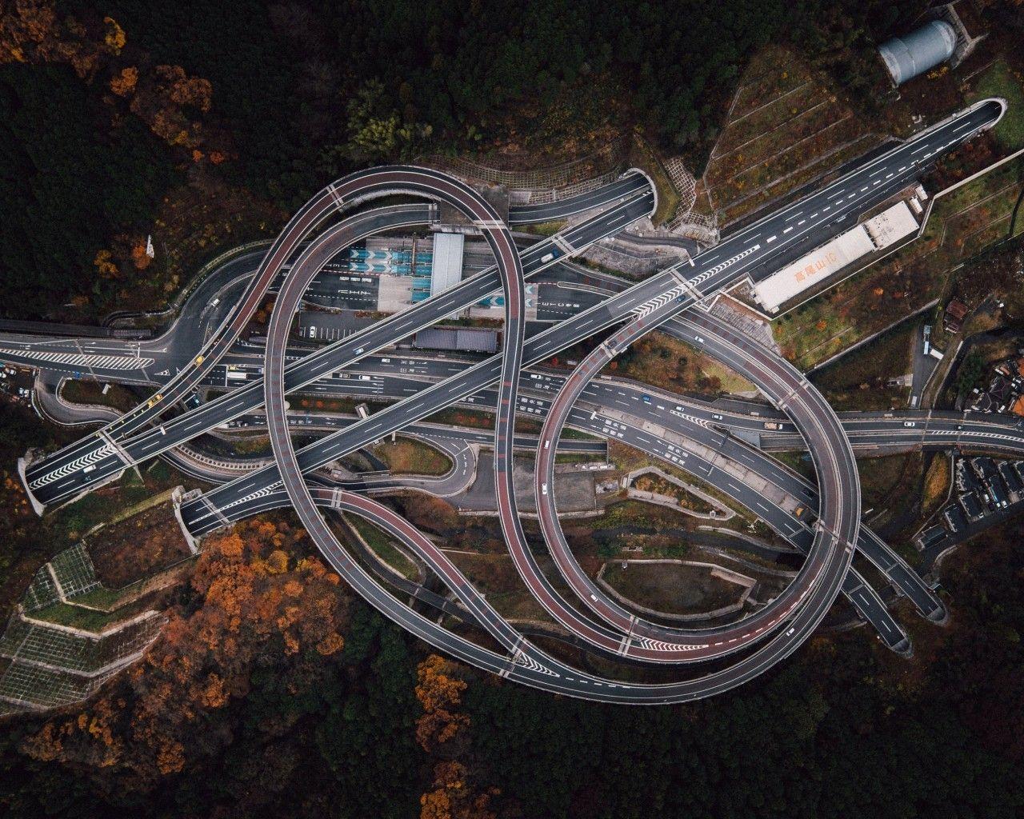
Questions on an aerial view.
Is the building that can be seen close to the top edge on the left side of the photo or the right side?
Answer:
right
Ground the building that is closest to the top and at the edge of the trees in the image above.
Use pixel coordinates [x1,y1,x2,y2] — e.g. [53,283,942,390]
[879,16,962,91]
